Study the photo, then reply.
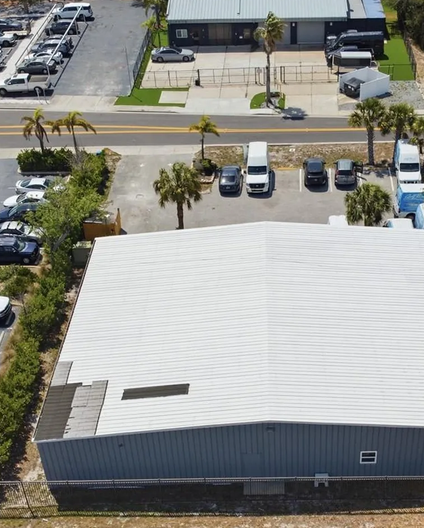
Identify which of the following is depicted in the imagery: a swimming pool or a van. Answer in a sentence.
There is a van in the scene.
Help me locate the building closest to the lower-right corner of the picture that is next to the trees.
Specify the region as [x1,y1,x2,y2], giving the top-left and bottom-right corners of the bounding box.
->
[27,222,424,487]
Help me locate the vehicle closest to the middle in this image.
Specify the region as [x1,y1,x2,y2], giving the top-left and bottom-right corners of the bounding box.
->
[214,162,239,190]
